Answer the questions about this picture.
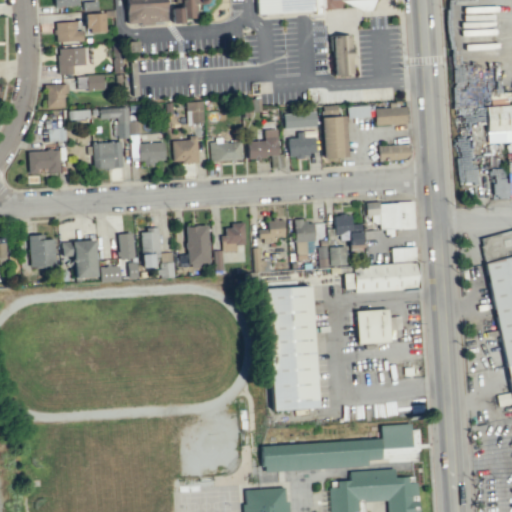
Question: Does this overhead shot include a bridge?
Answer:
No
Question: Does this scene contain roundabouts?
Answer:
No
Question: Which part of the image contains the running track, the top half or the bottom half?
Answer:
bottom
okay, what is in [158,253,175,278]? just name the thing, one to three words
building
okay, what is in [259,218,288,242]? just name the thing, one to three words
house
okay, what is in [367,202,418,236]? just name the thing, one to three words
building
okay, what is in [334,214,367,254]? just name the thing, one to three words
house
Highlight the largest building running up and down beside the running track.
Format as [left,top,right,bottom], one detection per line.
[269,286,320,412]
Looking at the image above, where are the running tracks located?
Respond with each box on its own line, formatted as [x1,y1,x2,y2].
[0,284,248,422]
